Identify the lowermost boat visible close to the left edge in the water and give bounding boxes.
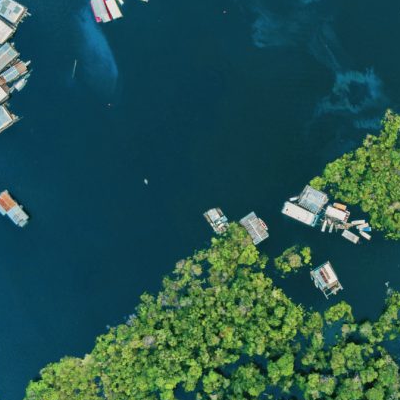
[9,74,30,93]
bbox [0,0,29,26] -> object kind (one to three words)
house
